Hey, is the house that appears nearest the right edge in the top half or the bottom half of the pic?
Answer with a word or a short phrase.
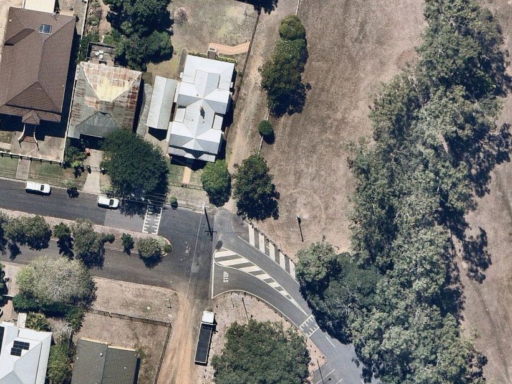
top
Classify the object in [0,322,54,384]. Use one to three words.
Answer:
house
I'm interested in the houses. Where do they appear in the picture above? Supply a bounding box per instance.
[166,55,235,163]
[0,322,54,384]
[0,6,76,151]
[71,337,138,384]
[67,61,143,139]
